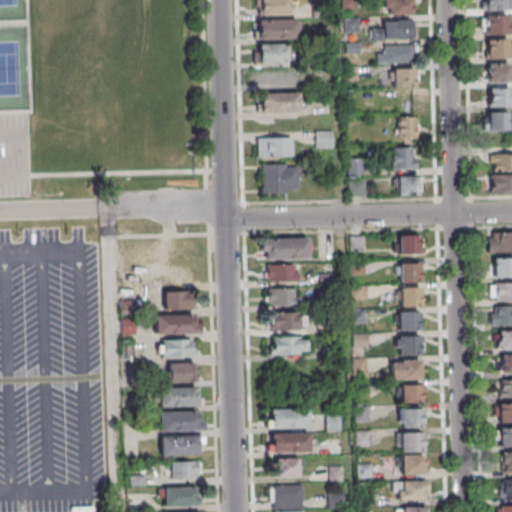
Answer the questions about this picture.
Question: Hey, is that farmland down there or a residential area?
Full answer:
The picture captures a residential area.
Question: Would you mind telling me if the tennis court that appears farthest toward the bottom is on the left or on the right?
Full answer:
It is on the left.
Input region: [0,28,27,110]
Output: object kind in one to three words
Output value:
tennis court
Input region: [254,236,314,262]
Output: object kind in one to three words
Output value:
house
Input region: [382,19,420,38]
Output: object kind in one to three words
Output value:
house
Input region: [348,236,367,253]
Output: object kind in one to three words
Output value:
building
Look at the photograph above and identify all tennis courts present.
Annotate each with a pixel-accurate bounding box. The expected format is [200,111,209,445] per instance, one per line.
[0,28,27,110]
[0,0,26,20]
